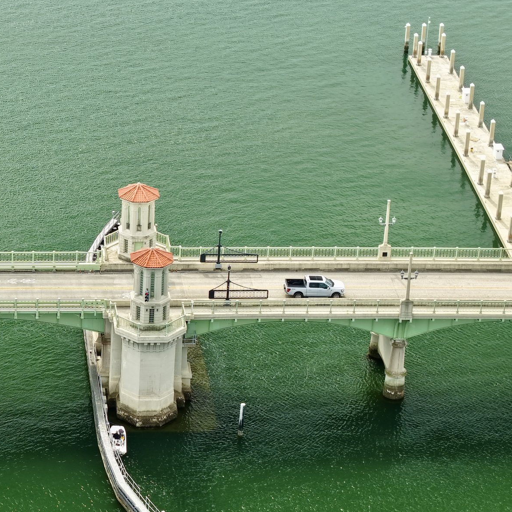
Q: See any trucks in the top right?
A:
No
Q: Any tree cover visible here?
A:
No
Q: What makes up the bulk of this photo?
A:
water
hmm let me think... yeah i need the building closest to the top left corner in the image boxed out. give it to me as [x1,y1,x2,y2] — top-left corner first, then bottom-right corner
[114,182,160,261]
